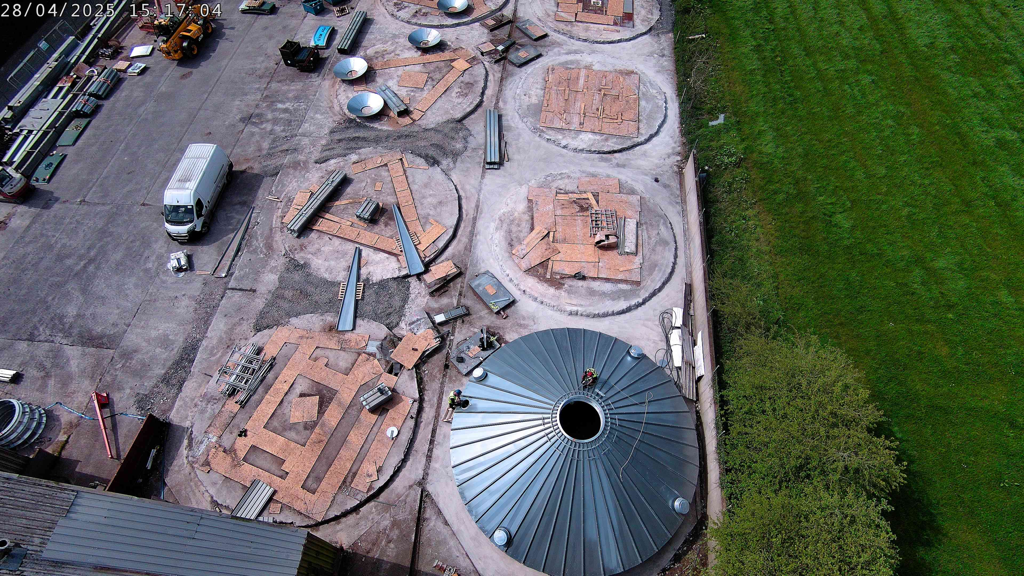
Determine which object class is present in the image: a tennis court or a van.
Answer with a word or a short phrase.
van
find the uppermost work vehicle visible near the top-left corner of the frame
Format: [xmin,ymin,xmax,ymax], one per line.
[146,5,216,60]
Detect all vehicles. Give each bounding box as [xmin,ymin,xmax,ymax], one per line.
[146,5,216,60]
[164,142,235,243]
[0,161,33,203]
